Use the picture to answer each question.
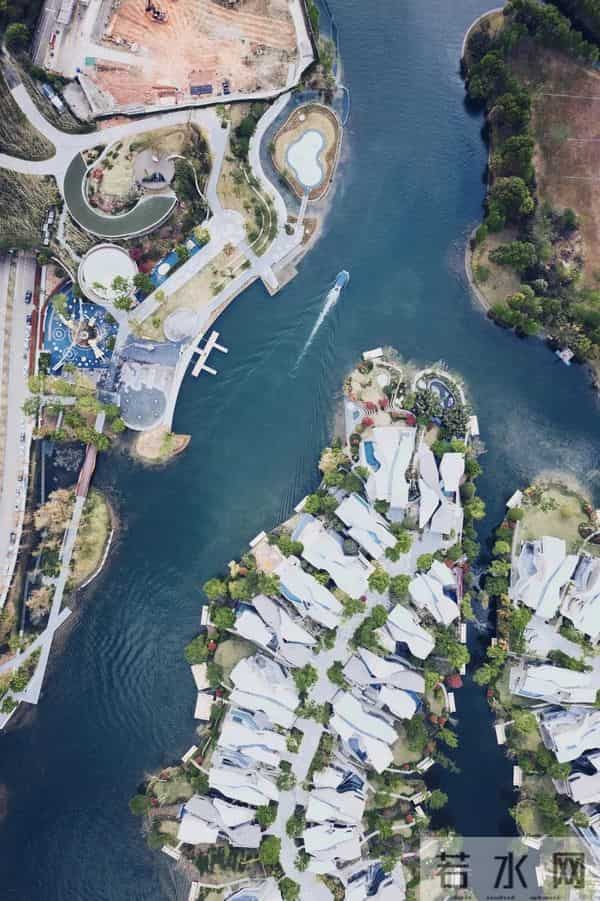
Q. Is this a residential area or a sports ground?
residential area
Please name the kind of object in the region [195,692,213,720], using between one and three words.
pier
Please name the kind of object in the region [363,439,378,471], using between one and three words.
swimming pool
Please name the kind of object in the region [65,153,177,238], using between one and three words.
building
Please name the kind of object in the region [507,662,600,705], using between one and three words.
house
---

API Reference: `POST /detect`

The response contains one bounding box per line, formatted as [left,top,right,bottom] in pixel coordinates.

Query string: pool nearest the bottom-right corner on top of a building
[569,759,598,774]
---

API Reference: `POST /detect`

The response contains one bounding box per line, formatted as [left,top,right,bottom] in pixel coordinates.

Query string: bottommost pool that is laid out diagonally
[348,737,367,762]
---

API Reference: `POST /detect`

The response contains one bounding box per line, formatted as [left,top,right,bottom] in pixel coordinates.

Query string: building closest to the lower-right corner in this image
[563,802,600,874]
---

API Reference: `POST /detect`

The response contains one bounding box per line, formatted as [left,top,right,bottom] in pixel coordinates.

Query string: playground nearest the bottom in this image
[43,281,118,371]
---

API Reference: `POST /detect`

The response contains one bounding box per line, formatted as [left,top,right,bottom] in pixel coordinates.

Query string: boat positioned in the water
[335,270,348,289]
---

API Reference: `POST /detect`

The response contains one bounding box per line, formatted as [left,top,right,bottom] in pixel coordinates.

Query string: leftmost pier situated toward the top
[193,331,228,377]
